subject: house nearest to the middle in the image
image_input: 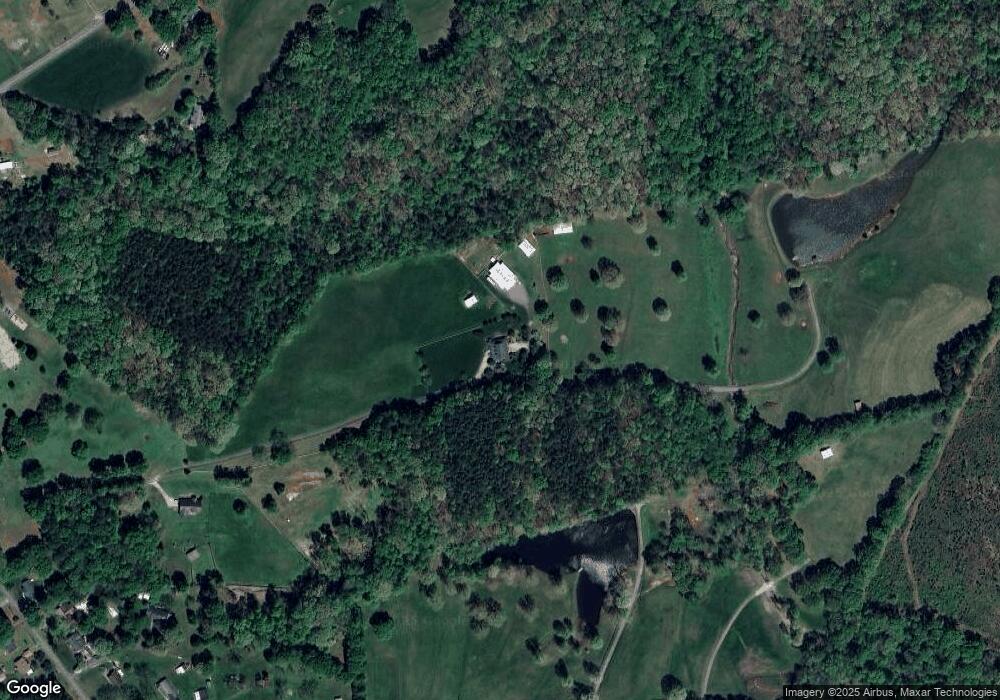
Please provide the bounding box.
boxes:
[491,339,514,364]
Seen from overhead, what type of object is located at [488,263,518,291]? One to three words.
barn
